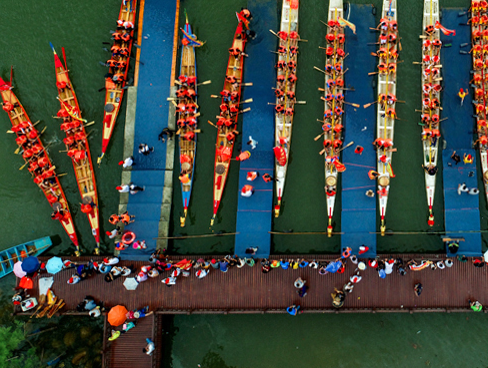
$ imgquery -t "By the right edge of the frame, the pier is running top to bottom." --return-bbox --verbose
[441,8,481,259]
